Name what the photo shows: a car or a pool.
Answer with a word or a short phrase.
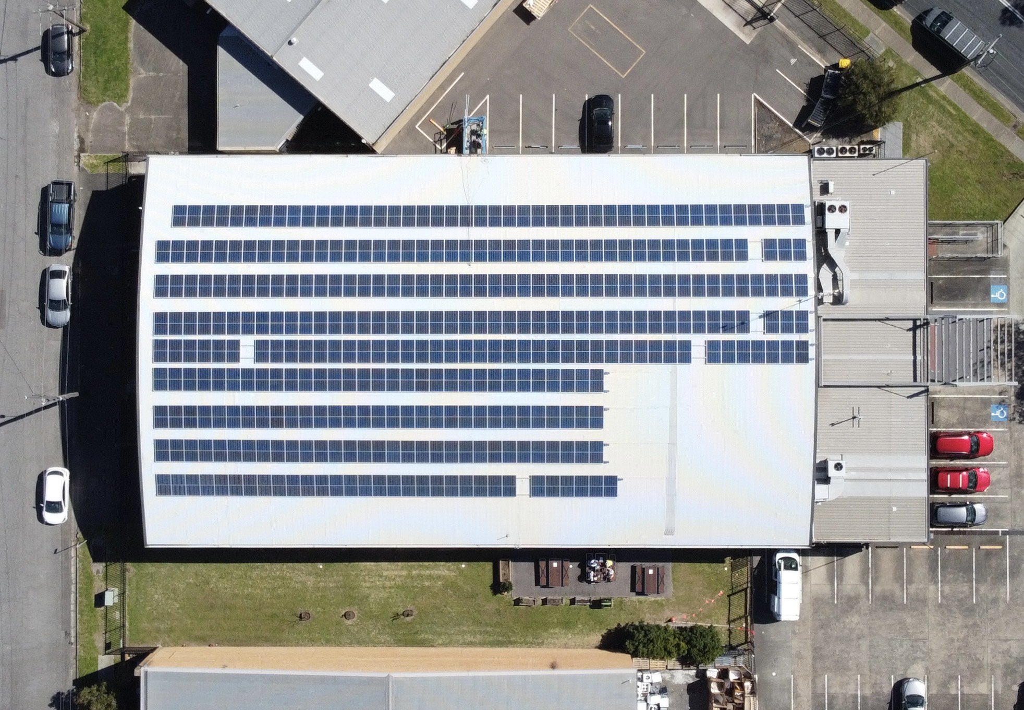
car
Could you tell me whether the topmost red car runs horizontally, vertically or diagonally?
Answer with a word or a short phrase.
horizontally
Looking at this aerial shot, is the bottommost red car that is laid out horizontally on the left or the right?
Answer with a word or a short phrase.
right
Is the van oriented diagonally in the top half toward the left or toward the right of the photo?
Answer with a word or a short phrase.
right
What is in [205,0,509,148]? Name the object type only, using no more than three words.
building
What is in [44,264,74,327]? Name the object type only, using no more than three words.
car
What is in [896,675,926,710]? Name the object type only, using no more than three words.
car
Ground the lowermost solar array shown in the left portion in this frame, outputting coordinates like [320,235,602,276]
[156,474,623,496]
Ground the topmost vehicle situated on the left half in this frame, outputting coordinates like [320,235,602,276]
[47,23,75,78]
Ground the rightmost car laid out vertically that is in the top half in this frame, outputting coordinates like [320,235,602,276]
[588,94,616,153]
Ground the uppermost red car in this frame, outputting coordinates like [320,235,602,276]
[930,431,992,459]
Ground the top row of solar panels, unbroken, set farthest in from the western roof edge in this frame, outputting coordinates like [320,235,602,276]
[171,204,810,226]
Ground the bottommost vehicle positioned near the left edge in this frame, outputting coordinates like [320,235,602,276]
[42,466,71,523]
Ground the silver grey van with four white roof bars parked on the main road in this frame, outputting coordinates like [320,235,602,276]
[921,9,985,64]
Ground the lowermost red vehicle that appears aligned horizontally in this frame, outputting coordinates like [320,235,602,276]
[930,466,989,493]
